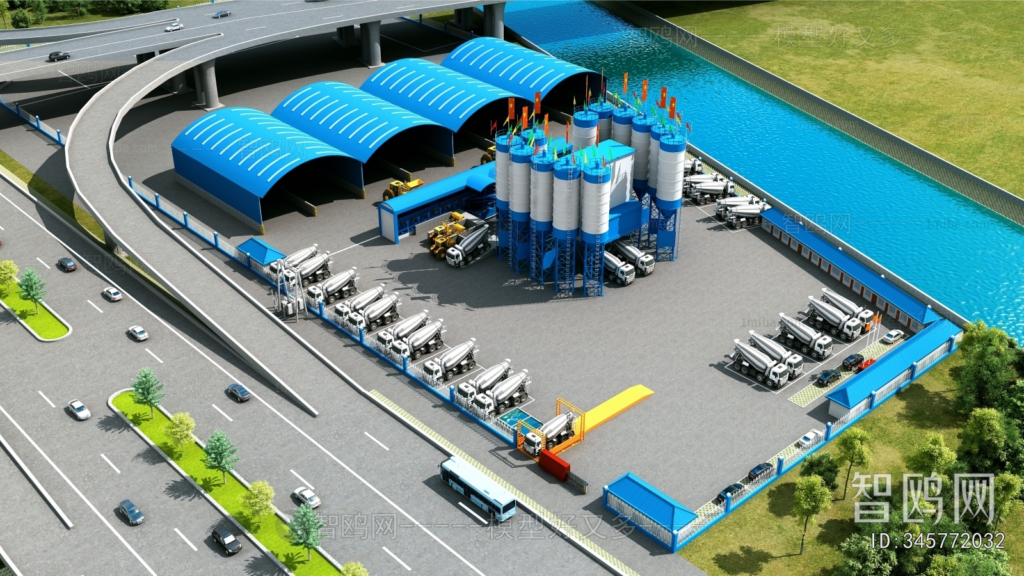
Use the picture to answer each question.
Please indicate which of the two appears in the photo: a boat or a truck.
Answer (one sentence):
There is a truck in the scene.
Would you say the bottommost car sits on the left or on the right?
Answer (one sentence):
It is on the left.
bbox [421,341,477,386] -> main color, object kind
white truck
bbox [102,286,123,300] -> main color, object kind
white car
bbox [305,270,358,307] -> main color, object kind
white truck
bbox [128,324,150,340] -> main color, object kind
white car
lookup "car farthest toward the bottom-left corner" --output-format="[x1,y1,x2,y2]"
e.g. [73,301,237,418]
[118,498,145,524]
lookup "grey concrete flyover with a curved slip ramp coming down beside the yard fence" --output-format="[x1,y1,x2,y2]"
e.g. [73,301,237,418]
[0,0,537,418]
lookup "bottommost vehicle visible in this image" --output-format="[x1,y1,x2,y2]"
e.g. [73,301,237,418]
[212,524,241,554]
